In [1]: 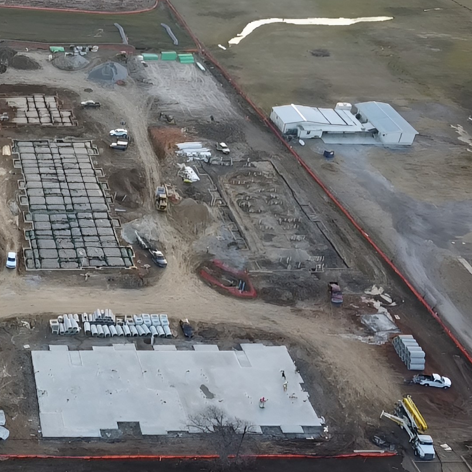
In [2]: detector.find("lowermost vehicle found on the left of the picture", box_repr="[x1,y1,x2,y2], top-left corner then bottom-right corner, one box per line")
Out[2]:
[176,313,196,340]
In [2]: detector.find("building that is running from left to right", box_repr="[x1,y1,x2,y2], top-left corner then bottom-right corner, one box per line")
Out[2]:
[269,104,376,141]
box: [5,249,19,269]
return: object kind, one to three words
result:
vehicle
